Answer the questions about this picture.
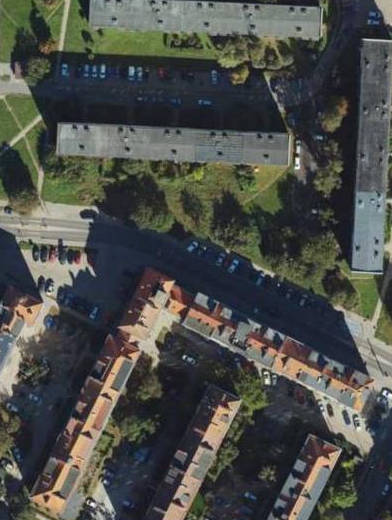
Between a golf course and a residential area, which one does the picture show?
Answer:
residential area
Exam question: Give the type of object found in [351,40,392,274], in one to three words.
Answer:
building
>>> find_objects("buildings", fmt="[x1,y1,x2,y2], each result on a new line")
[351,40,392,274]
[0,289,38,388]
[57,123,291,169]
[90,0,322,44]
[110,272,175,351]
[179,293,374,412]
[268,434,342,520]
[28,337,139,516]
[145,385,243,520]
